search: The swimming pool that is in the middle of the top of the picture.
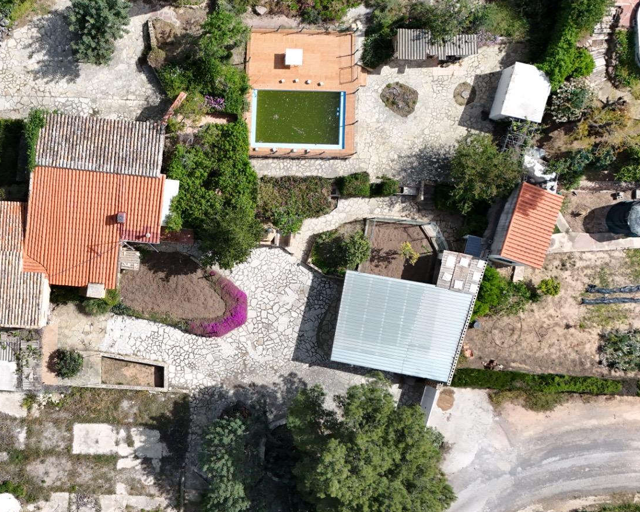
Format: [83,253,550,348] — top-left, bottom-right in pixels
[244,26,366,159]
